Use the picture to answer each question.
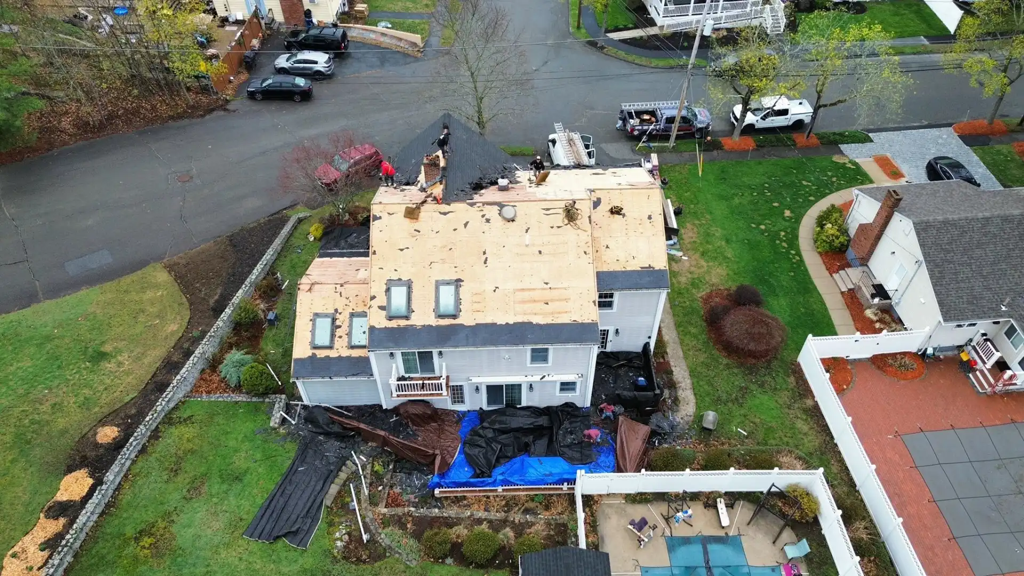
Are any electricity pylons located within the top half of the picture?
No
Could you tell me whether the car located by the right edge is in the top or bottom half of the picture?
top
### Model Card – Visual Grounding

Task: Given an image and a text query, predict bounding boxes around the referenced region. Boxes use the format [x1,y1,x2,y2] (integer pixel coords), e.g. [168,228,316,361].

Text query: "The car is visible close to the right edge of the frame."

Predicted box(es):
[919,152,995,181]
